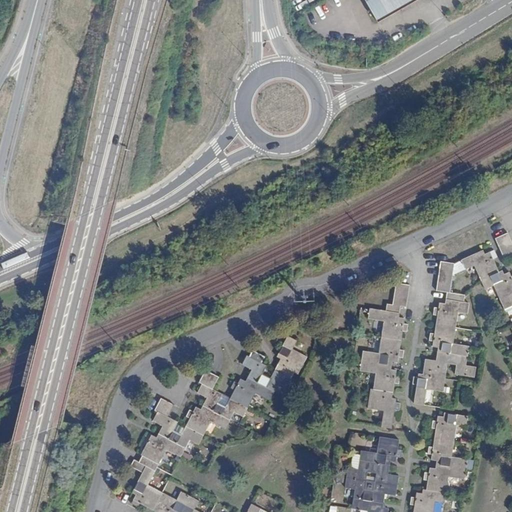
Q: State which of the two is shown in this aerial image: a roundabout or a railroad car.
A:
roundabout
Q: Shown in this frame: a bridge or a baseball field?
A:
bridge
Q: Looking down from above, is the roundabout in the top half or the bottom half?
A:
top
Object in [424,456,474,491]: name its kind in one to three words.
house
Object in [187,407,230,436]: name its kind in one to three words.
house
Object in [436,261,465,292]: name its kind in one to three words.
building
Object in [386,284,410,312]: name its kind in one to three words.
building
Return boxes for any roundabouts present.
[210,42,351,172]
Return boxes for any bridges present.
[10,200,114,446]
